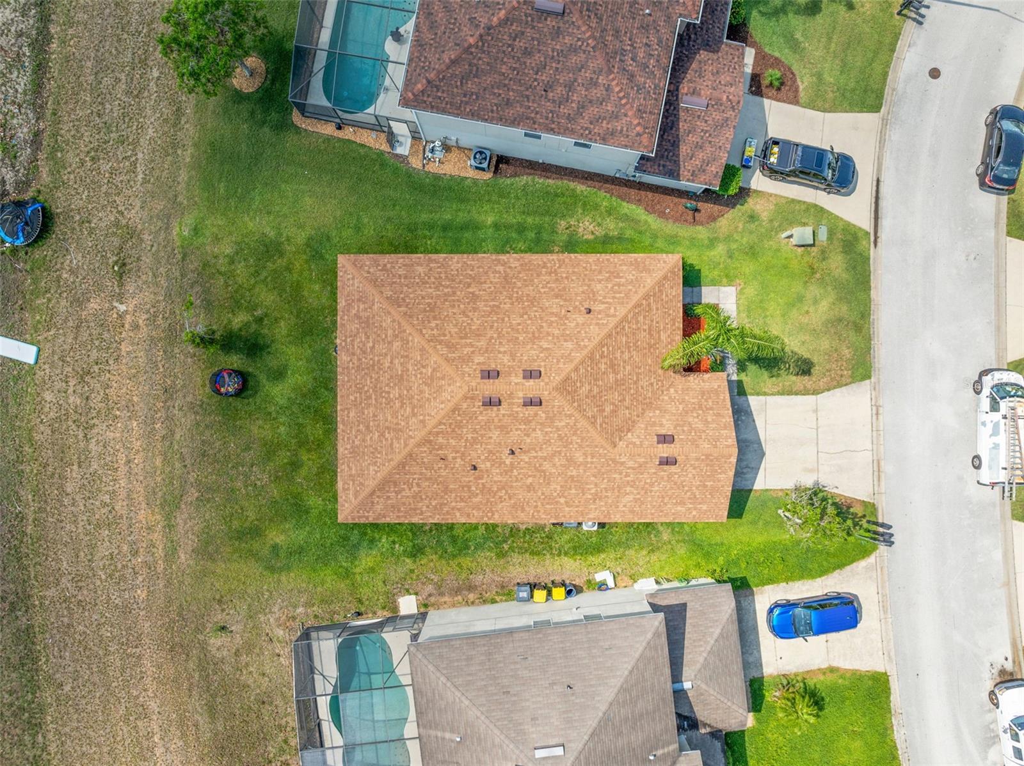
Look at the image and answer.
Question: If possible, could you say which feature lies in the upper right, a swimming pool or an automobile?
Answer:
automobile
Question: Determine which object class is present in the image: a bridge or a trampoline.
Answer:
trampoline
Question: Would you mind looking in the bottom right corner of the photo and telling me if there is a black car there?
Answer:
No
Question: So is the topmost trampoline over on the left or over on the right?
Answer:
left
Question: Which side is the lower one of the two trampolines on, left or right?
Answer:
left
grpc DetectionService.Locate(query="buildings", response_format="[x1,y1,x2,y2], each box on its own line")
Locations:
[336,254,739,523]
[395,0,746,197]
[407,578,749,766]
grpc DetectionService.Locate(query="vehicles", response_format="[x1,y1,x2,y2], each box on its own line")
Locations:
[766,589,862,640]
[970,367,1024,483]
[984,683,1024,766]
[756,135,860,194]
[972,101,1024,192]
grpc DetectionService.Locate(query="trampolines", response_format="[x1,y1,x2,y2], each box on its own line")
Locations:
[0,193,47,251]
[205,367,245,399]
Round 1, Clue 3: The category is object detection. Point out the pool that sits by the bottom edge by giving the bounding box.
[327,628,413,766]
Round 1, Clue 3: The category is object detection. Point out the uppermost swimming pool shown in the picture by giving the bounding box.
[320,0,415,116]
